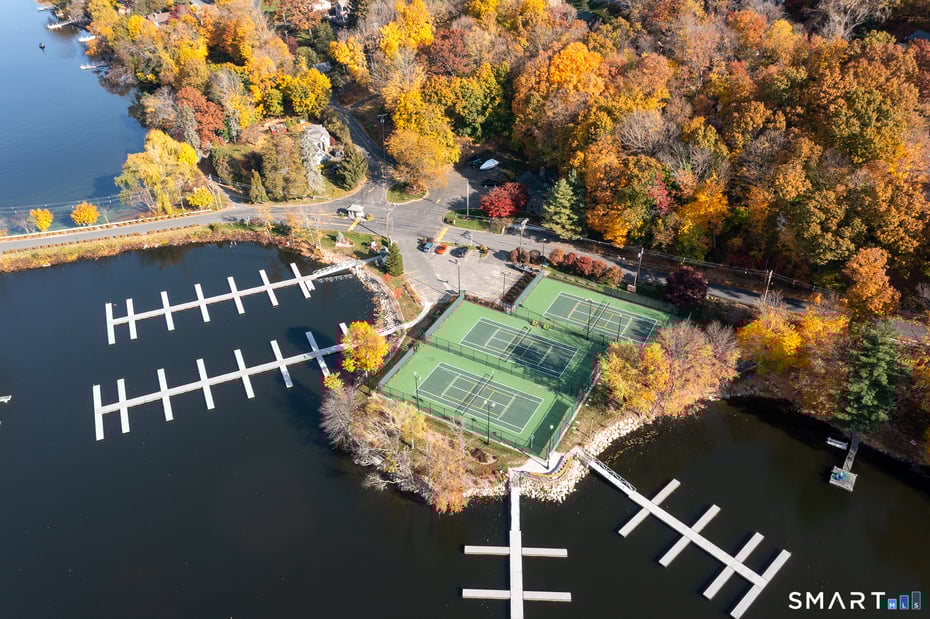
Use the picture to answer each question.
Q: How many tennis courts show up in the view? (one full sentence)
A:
The photo contains 3 tennis courts.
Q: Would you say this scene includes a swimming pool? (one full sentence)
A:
No, the picture doesn't show any swimming pool.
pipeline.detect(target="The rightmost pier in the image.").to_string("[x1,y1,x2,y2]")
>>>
[827,435,860,495]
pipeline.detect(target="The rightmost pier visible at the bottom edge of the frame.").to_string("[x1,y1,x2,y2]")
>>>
[618,479,791,619]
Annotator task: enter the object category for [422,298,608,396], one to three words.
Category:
tennis court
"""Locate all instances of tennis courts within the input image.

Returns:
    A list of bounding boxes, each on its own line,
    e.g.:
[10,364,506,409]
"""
[375,340,579,460]
[510,273,680,355]
[422,298,608,396]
